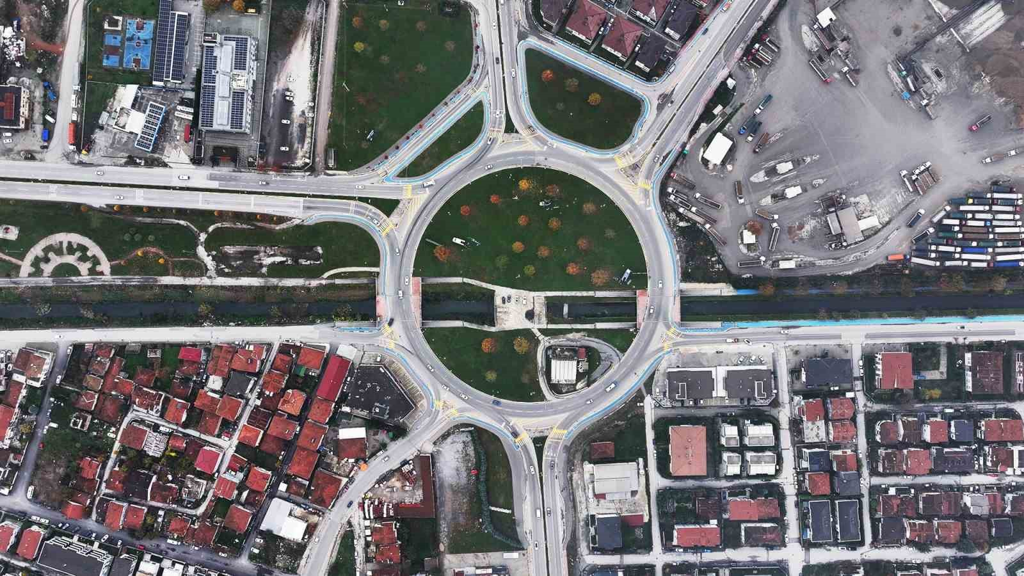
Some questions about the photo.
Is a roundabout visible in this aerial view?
Yes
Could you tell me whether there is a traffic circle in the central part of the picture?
Yes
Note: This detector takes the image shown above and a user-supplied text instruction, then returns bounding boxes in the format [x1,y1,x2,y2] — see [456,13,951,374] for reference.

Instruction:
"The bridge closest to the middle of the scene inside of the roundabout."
[495,287,546,331]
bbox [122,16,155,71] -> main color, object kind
blue basketball court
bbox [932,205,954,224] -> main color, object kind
white vehicle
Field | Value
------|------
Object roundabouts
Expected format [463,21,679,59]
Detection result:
[394,148,667,421]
